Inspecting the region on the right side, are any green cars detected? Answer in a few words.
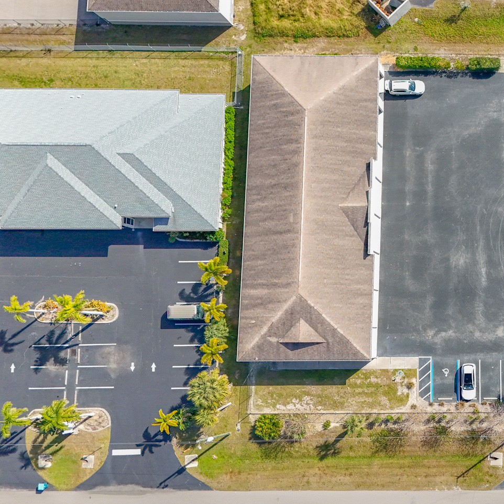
No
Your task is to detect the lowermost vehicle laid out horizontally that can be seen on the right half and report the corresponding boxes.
[388,80,423,96]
